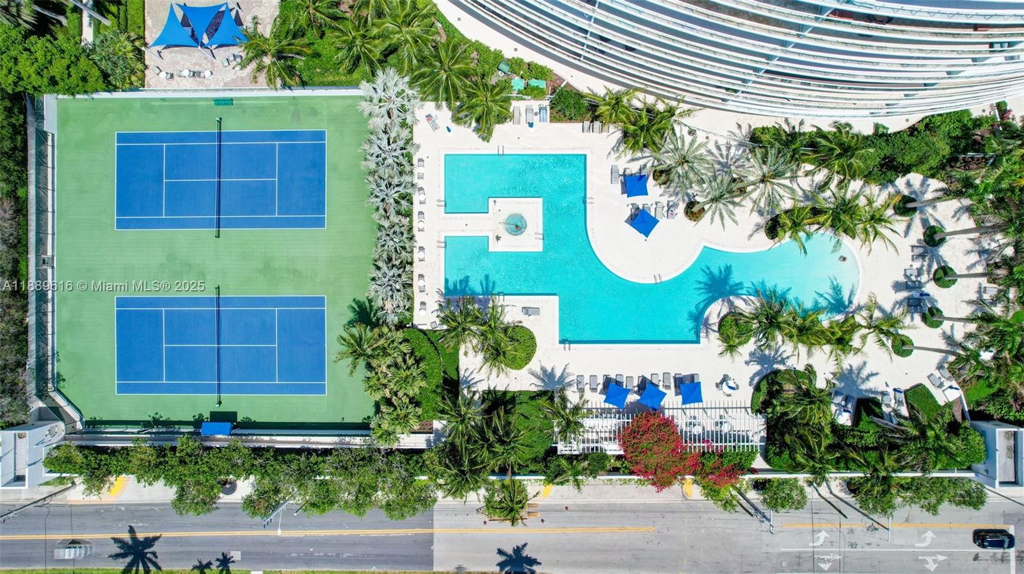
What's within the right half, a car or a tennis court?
car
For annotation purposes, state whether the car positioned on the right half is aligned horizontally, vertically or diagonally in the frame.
horizontally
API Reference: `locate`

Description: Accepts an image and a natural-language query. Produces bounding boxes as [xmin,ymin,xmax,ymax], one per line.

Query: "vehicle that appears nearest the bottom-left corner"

[53,542,92,562]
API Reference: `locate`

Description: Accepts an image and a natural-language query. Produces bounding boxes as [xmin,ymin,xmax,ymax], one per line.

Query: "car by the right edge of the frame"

[975,530,1017,551]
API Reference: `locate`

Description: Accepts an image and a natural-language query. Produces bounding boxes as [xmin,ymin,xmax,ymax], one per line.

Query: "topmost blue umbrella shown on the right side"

[624,175,646,197]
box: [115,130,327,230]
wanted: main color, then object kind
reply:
blue tennis court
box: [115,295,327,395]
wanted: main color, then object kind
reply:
blue tennis court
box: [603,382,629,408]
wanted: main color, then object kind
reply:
blue umbrella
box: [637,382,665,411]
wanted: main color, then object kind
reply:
blue umbrella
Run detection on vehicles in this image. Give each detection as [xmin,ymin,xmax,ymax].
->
[53,542,92,562]
[975,530,1017,551]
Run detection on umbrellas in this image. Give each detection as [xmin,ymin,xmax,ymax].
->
[629,209,658,237]
[603,382,629,408]
[624,175,646,197]
[679,381,702,404]
[637,382,665,411]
